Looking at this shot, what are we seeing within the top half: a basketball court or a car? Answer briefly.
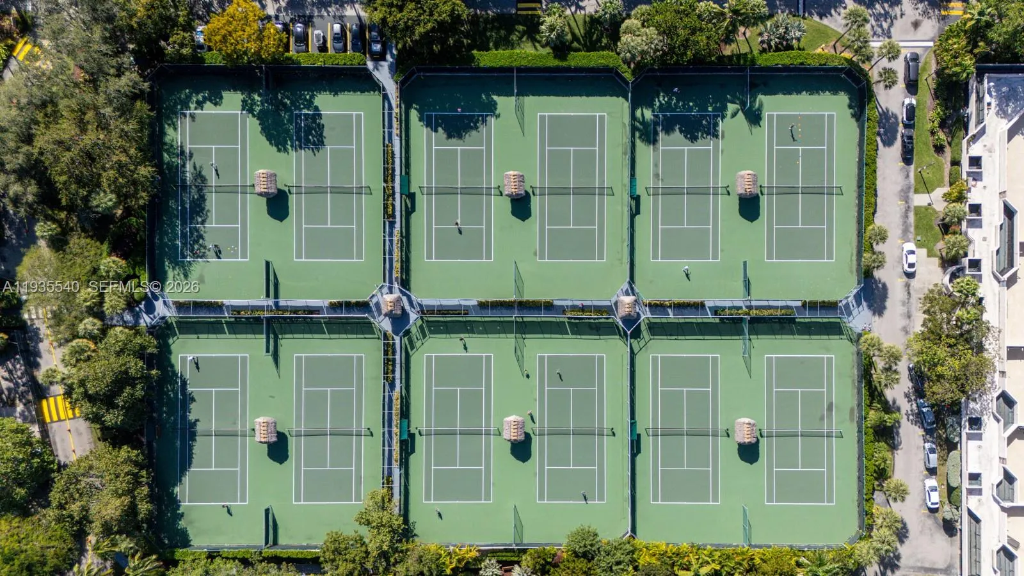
car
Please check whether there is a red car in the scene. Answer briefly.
No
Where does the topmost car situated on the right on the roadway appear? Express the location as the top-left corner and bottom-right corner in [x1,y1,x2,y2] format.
[903,52,921,85]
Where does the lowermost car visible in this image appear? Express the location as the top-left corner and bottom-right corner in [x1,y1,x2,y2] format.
[923,478,940,509]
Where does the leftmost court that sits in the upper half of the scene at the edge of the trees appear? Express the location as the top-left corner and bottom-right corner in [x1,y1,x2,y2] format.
[157,72,271,299]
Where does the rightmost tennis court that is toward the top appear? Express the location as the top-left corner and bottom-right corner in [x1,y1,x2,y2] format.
[743,73,857,299]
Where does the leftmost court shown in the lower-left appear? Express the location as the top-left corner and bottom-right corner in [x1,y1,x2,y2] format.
[158,316,271,545]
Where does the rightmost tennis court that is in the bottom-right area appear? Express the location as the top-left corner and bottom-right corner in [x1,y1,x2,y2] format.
[743,317,857,545]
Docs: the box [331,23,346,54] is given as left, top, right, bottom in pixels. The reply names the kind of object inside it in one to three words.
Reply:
car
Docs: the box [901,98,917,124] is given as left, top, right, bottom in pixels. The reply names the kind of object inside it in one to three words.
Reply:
car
